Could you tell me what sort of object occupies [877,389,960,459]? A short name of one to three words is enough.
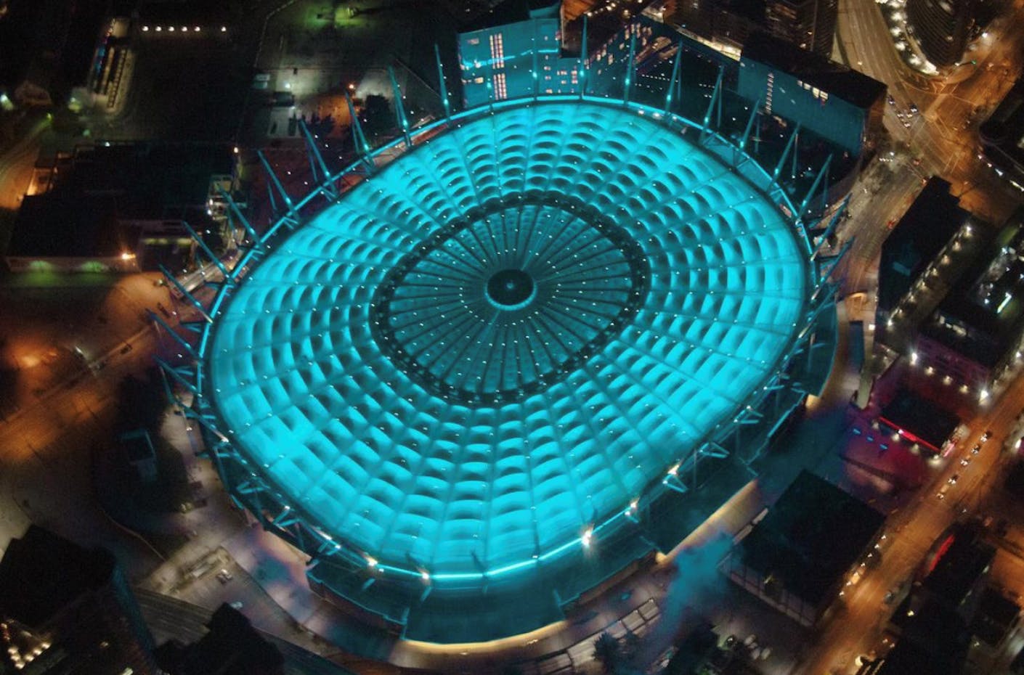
building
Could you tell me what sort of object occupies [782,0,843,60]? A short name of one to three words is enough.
building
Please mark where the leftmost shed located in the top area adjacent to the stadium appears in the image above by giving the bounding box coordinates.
[7,193,145,271]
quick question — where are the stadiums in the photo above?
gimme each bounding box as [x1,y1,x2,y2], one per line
[149,20,858,651]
